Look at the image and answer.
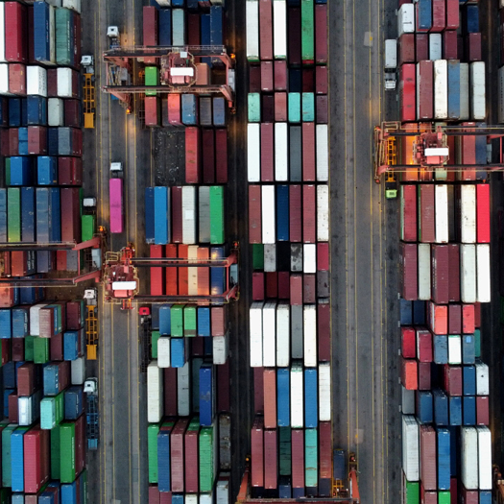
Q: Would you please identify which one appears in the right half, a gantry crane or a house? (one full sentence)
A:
The one visible in the right half is a gantry crane.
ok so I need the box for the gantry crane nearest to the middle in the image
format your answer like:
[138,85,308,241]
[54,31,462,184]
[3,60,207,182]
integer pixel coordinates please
[96,238,242,307]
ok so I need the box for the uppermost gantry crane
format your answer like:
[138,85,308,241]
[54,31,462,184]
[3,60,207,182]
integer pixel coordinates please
[93,40,241,117]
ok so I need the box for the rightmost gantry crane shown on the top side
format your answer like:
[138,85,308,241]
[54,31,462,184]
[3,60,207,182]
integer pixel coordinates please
[374,118,504,184]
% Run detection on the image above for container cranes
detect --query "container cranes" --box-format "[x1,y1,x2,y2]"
[0,224,108,289]
[374,118,504,184]
[224,448,364,504]
[96,238,242,307]
[93,40,241,117]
